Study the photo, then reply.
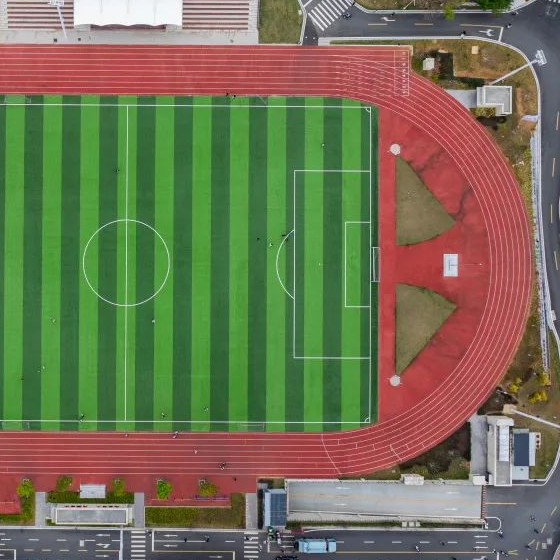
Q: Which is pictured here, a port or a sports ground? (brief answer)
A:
sports ground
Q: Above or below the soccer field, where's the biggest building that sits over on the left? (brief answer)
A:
below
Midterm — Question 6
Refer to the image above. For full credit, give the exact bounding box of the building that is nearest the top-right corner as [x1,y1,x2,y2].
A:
[474,86,513,117]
